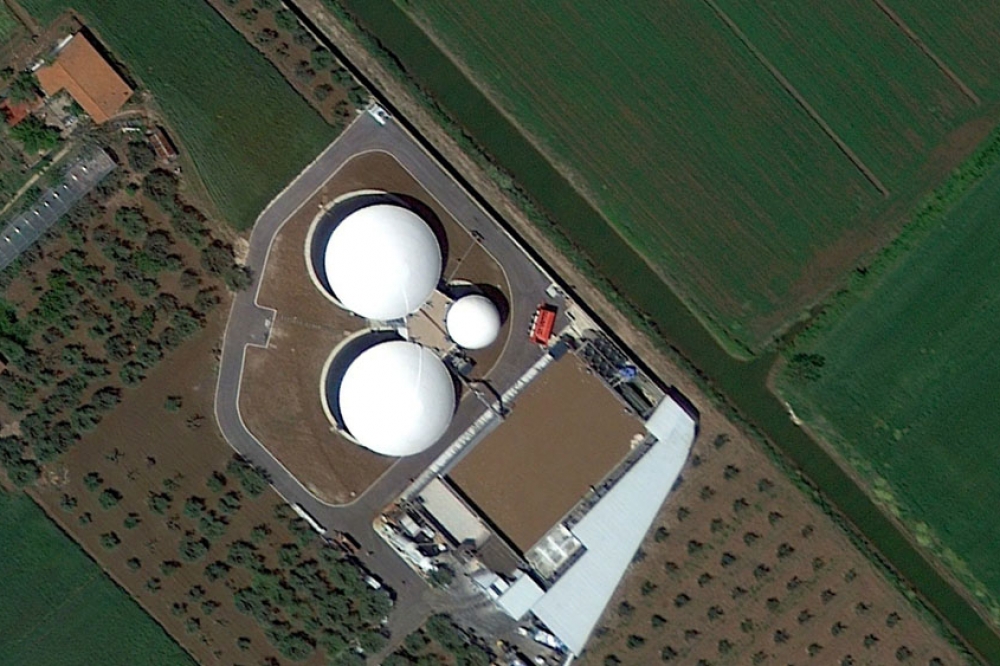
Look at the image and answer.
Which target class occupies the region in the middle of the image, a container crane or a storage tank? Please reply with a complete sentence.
The feature located in the middle of the image is a storage tank.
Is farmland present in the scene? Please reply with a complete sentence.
Yes, the picture does contain farmland.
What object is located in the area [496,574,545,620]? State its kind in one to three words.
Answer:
shed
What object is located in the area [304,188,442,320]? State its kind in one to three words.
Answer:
storage tank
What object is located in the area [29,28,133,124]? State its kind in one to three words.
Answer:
house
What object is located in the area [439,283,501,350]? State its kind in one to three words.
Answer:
storage tank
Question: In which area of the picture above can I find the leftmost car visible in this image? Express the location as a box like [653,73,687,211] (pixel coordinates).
[63,113,79,127]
